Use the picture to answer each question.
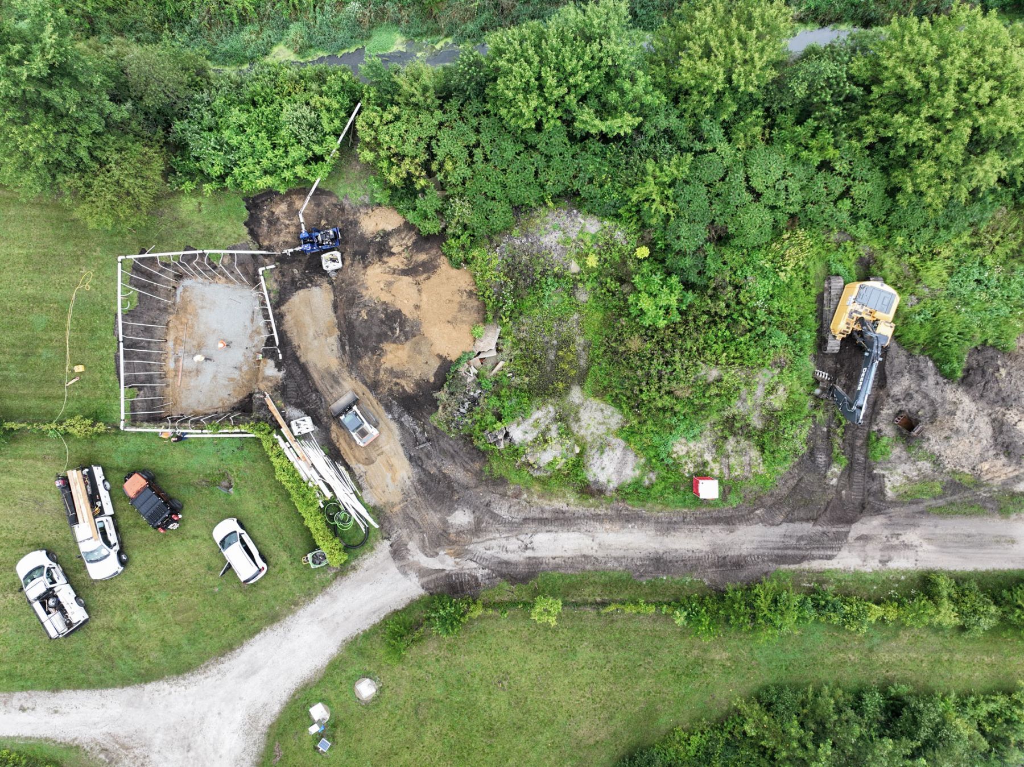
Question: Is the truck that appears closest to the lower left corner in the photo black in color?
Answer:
No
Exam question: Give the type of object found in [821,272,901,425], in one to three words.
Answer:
work vehicle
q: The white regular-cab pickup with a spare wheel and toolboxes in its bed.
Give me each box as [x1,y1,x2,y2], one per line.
[19,550,92,637]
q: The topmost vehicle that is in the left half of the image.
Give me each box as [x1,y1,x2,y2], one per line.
[335,389,387,452]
